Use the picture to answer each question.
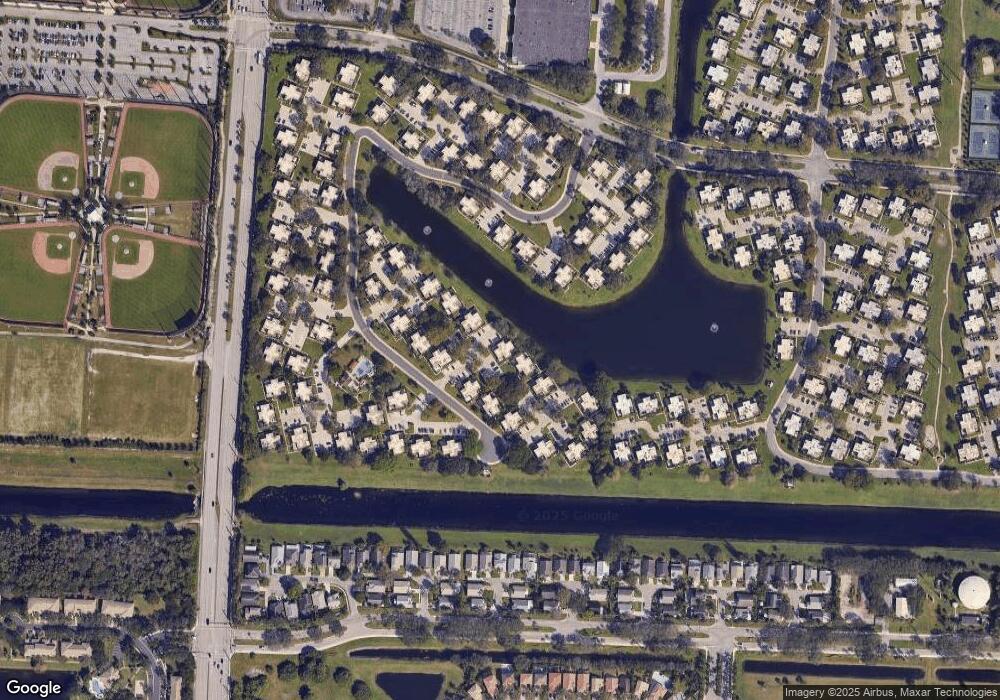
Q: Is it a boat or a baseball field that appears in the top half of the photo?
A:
baseball field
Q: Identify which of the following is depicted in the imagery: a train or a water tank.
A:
water tank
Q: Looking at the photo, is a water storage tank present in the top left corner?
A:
No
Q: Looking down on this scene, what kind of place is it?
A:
residential area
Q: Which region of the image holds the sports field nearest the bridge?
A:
left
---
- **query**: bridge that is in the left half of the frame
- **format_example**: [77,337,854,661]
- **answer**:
[195,488,236,516]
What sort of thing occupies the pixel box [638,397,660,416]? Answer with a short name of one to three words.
house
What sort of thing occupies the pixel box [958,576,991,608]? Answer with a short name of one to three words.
water tank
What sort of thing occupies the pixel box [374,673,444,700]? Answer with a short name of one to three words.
pond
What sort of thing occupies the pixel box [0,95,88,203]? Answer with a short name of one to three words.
baseball field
